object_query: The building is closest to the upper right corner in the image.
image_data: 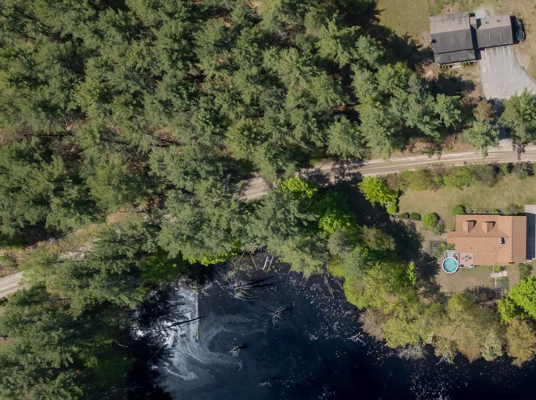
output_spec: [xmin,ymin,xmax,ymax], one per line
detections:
[429,15,515,71]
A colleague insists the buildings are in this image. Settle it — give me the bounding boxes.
[447,214,527,265]
[429,15,515,71]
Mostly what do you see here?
trees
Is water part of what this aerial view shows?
Yes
